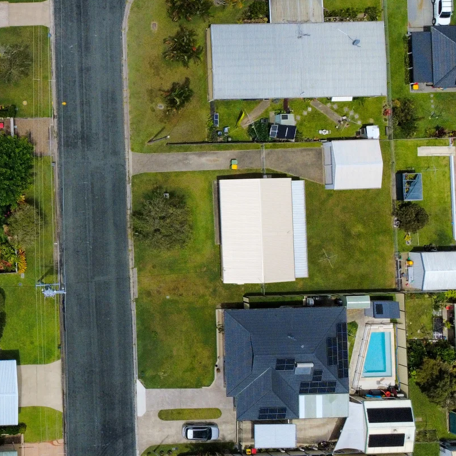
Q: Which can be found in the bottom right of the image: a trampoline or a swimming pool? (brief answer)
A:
swimming pool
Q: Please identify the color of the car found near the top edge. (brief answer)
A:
white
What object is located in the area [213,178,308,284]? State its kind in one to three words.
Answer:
house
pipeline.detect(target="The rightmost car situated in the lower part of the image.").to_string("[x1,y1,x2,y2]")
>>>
[181,423,219,442]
